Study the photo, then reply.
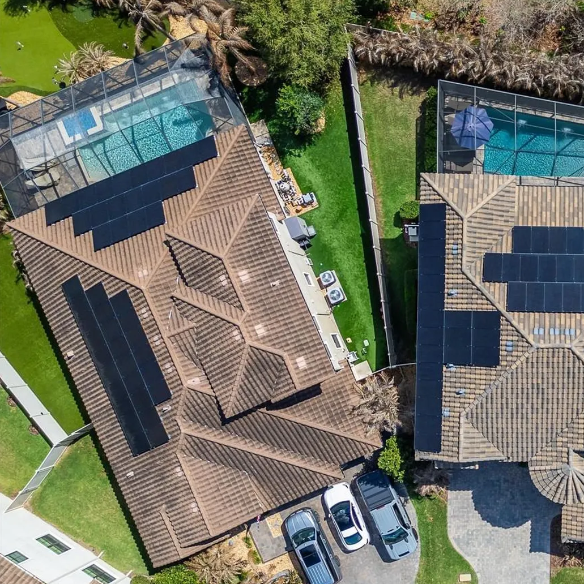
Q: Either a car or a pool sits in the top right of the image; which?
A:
pool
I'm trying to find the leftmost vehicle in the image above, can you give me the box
[287,504,342,584]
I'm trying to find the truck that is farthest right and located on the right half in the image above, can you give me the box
[355,468,416,563]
